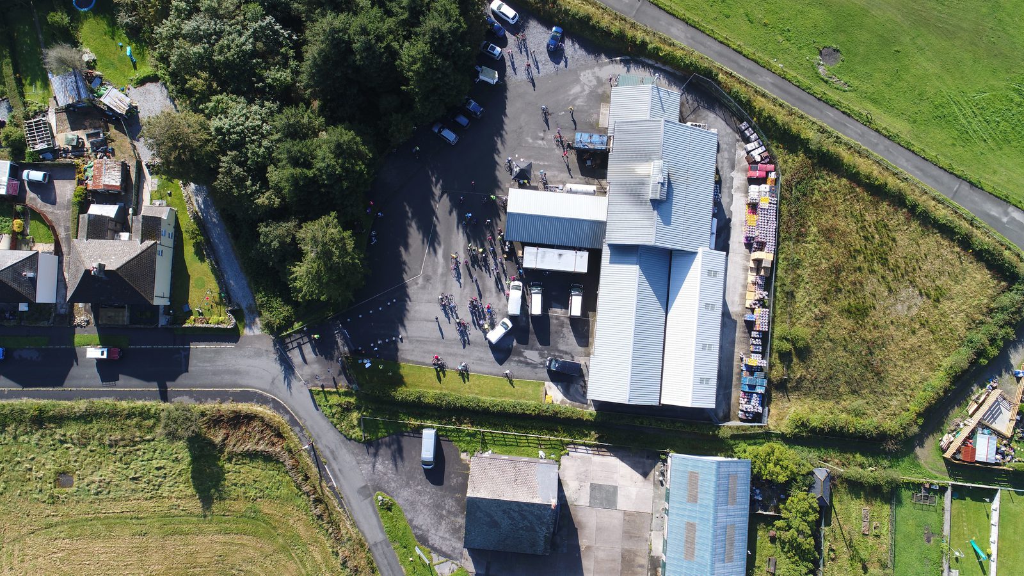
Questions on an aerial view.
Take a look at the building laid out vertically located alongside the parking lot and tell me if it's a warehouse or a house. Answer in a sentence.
It looks like the building laid out vertically located alongside the parking lot is a warehouse.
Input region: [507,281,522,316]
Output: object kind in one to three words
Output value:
vehicle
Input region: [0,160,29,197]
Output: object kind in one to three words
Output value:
building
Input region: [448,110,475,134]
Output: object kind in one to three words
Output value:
car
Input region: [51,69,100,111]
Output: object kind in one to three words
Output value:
shed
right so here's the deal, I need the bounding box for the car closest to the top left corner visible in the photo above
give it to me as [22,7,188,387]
[24,168,53,184]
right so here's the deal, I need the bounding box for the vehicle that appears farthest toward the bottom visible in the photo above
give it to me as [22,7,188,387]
[420,428,437,468]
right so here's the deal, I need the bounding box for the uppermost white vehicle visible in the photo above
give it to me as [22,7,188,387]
[490,0,521,27]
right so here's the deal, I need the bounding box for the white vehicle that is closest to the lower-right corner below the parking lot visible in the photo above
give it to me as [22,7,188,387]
[569,283,584,318]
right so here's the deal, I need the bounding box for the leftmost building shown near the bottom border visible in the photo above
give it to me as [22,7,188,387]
[464,450,559,555]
